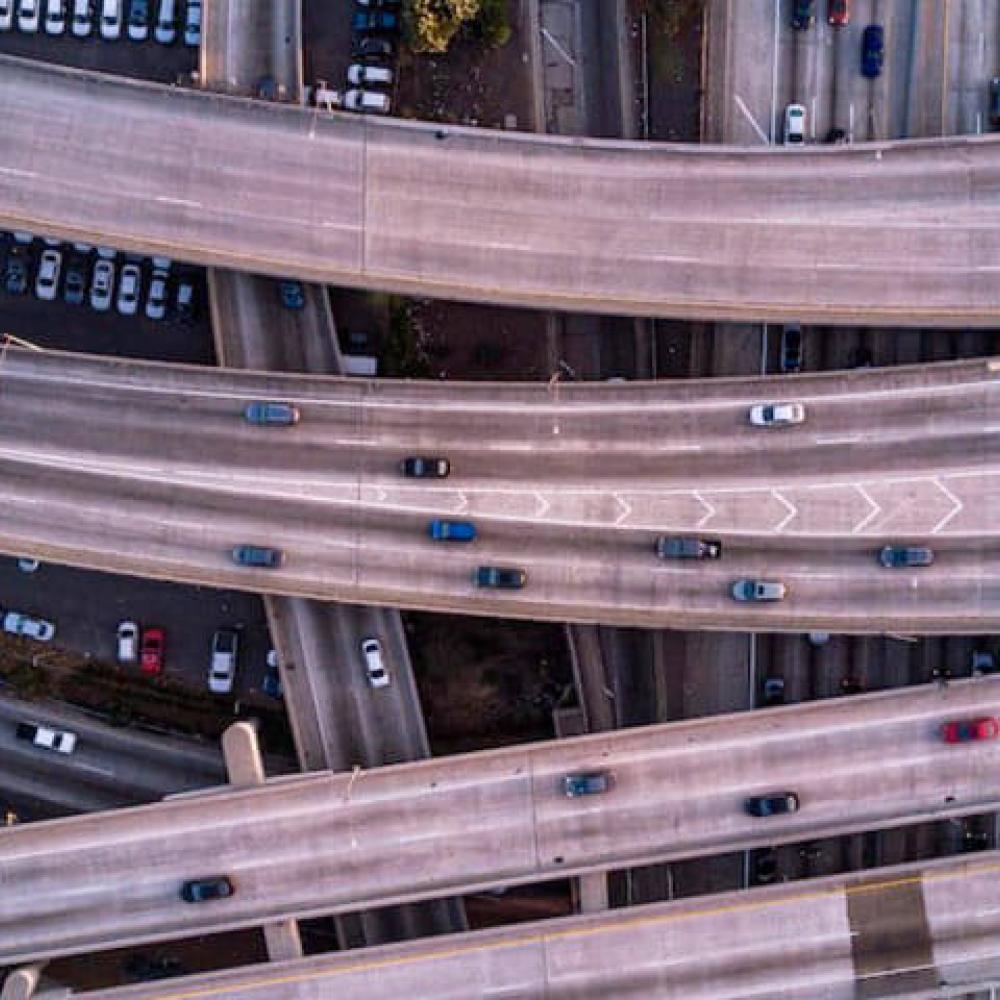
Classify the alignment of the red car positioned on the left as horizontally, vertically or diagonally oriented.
vertically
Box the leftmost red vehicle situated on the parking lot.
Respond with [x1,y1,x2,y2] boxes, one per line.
[140,627,164,674]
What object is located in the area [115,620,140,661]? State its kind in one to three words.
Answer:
car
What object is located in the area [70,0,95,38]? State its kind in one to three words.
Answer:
car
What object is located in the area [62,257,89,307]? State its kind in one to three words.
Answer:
truck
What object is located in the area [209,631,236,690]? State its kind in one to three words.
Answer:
truck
